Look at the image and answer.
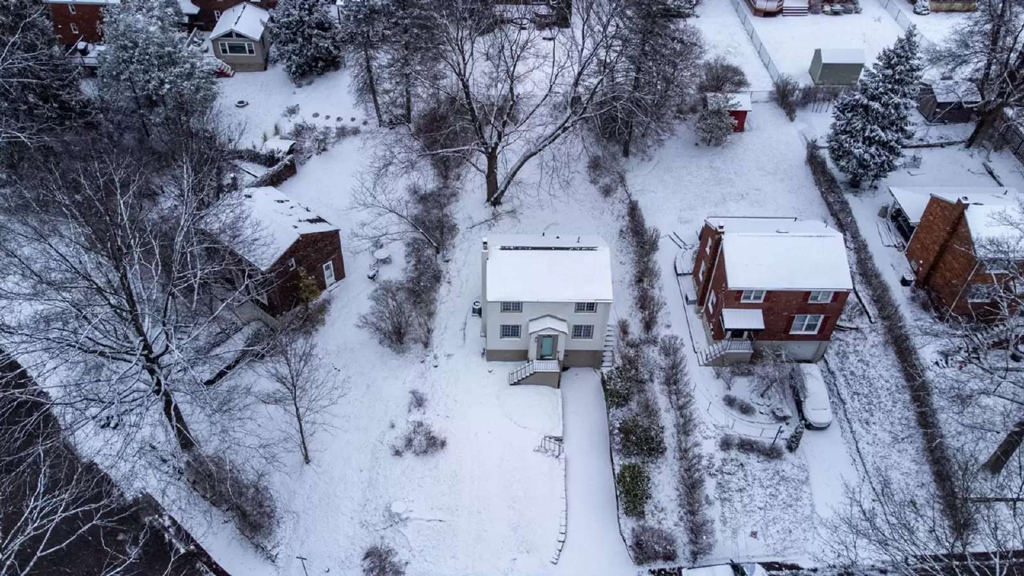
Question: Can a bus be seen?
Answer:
No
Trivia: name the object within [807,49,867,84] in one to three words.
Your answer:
shed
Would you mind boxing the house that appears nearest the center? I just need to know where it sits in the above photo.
[476,230,614,383]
